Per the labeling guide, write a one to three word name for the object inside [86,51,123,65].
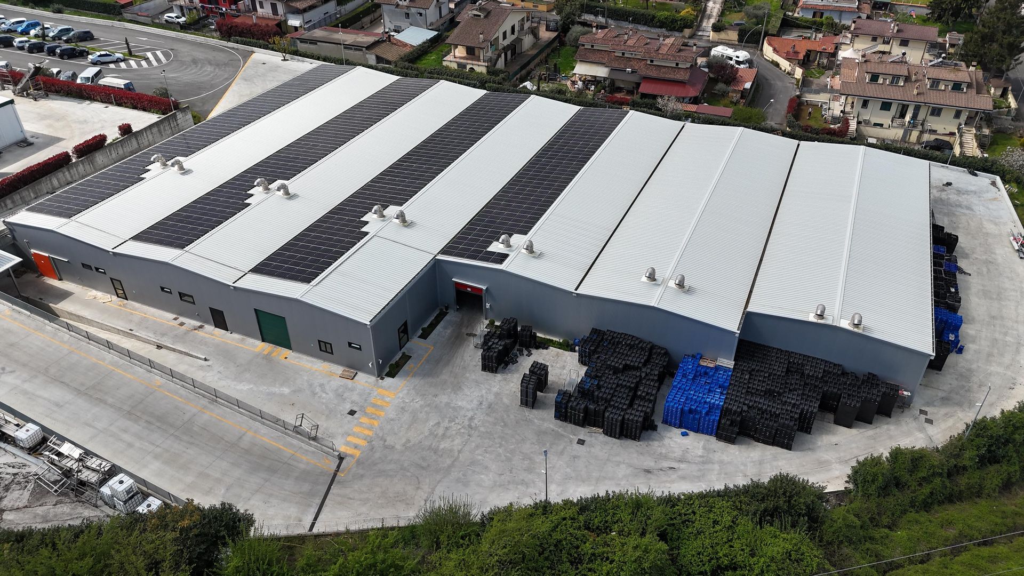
car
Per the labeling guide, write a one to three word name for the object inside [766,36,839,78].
house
